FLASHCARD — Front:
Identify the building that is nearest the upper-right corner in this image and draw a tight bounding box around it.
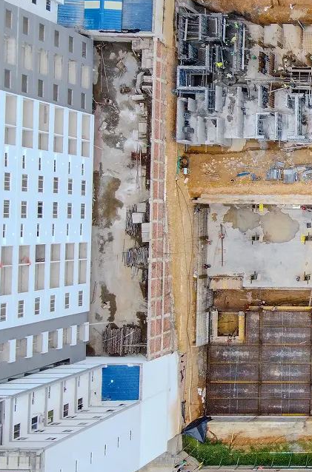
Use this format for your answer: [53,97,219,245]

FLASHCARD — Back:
[176,12,312,147]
